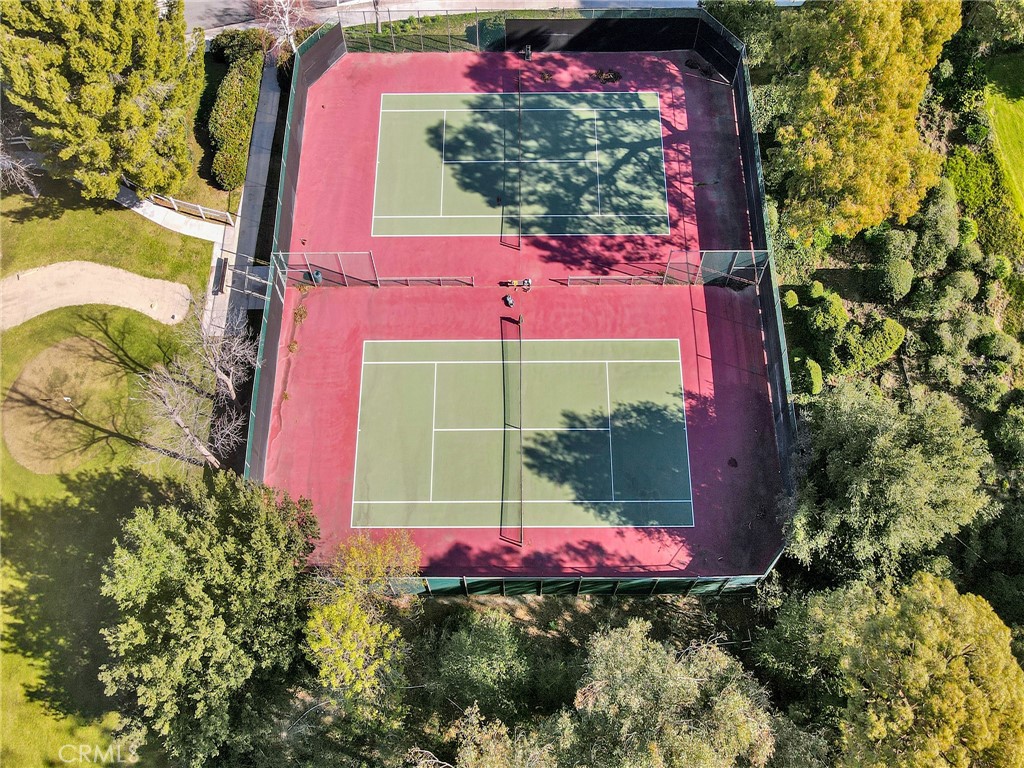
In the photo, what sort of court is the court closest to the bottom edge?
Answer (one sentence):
It turns out the court closest to the bottom edge is a tennis court.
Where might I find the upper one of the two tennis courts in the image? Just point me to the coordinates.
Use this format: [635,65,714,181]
[287,50,756,287]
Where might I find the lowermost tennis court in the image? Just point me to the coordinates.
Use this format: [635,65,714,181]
[262,284,786,579]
